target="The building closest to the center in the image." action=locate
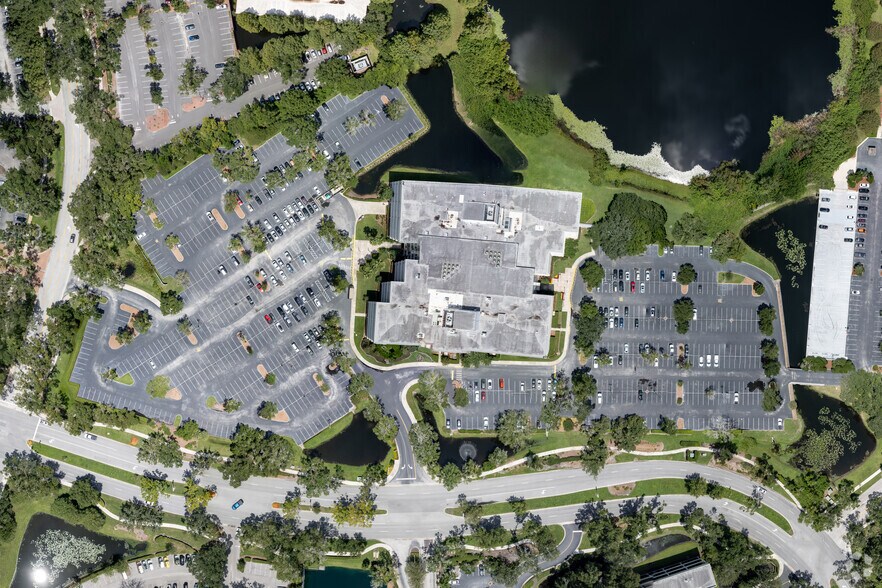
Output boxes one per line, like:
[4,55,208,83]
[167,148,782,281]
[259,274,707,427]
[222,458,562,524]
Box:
[365,179,584,359]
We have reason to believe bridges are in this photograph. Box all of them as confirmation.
[789,368,844,387]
